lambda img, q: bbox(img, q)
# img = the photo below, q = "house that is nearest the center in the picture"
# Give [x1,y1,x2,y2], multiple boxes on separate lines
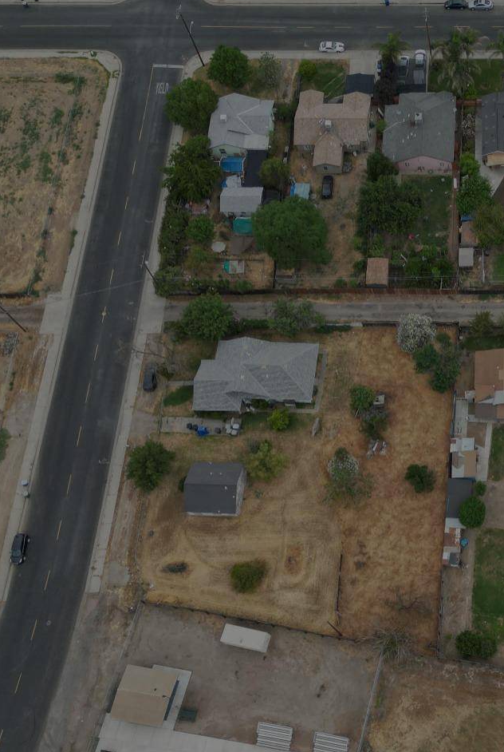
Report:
[192,336,320,416]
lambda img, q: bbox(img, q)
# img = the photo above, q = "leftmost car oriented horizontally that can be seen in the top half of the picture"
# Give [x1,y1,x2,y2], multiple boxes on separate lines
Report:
[317,39,346,52]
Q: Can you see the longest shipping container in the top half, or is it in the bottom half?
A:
bottom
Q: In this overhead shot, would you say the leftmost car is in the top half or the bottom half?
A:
bottom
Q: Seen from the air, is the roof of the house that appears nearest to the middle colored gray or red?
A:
gray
